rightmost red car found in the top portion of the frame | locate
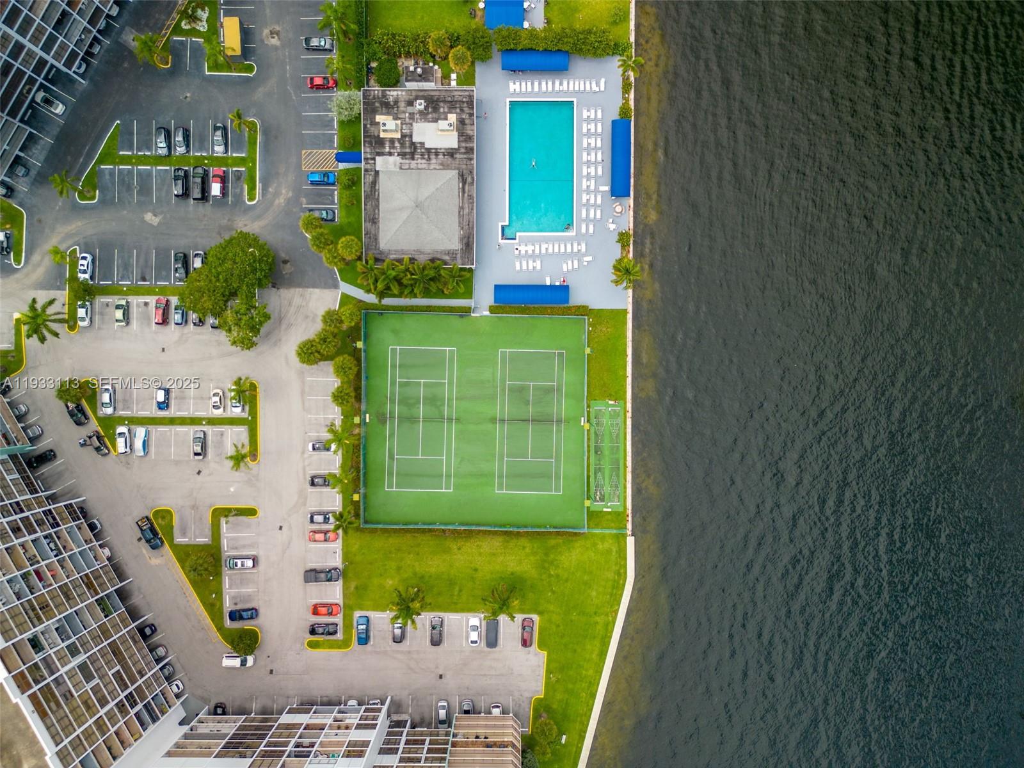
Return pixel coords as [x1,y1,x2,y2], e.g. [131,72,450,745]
[307,75,337,90]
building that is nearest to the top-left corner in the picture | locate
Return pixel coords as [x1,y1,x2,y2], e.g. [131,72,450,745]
[0,0,128,184]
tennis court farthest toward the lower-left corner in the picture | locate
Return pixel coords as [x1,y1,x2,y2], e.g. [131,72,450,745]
[381,346,460,492]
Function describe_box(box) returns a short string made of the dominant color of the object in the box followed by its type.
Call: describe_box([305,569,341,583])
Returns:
gray vehicle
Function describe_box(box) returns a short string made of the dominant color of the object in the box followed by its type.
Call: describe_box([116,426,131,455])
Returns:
white car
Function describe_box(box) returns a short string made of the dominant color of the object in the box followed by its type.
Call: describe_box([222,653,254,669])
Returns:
white vehicle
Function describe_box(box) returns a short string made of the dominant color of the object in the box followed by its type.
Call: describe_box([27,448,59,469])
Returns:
black car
